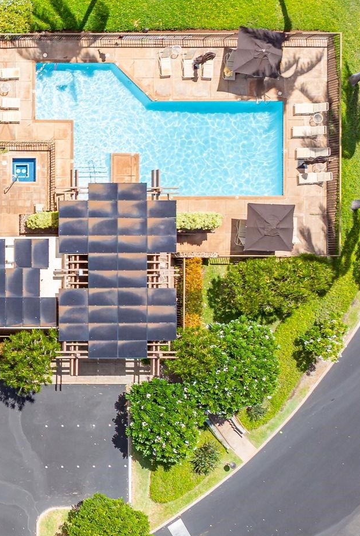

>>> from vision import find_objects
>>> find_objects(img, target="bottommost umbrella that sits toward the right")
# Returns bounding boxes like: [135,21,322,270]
[242,204,292,251]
